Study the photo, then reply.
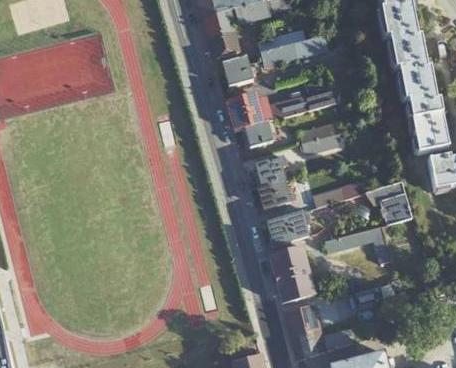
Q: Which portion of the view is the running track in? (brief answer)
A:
left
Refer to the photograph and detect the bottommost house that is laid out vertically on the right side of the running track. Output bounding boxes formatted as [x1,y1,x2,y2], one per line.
[298,304,322,350]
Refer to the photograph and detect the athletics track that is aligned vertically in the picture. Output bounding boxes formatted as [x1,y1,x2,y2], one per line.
[0,0,202,361]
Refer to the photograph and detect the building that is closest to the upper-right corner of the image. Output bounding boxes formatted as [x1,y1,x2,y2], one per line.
[380,0,451,156]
